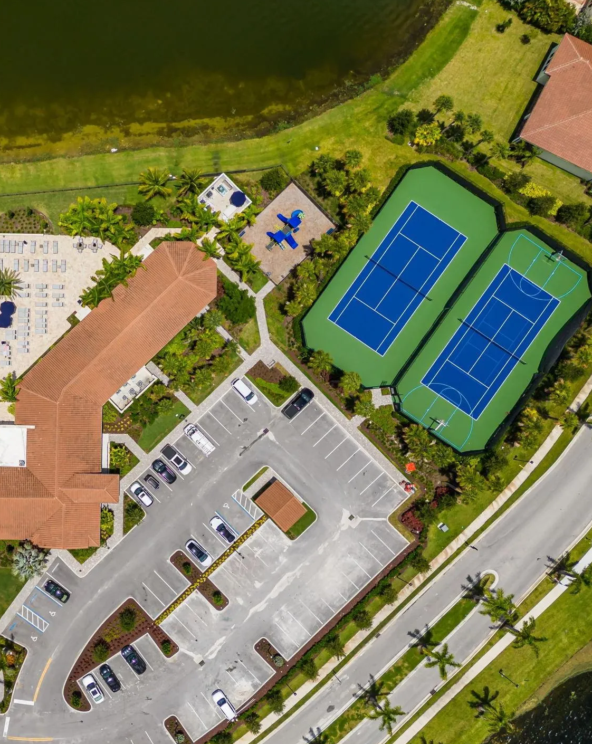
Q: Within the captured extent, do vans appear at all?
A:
Yes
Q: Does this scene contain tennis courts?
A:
Yes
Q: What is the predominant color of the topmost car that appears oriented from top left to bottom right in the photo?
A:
white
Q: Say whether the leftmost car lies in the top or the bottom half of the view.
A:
bottom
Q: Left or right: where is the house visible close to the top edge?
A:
right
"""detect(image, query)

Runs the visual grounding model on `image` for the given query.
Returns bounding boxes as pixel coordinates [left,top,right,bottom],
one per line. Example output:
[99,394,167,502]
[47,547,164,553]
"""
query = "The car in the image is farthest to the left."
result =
[44,577,72,605]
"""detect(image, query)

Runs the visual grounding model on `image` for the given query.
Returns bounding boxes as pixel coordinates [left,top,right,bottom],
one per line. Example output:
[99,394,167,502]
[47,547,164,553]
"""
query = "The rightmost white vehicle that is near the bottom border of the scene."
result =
[211,688,240,723]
